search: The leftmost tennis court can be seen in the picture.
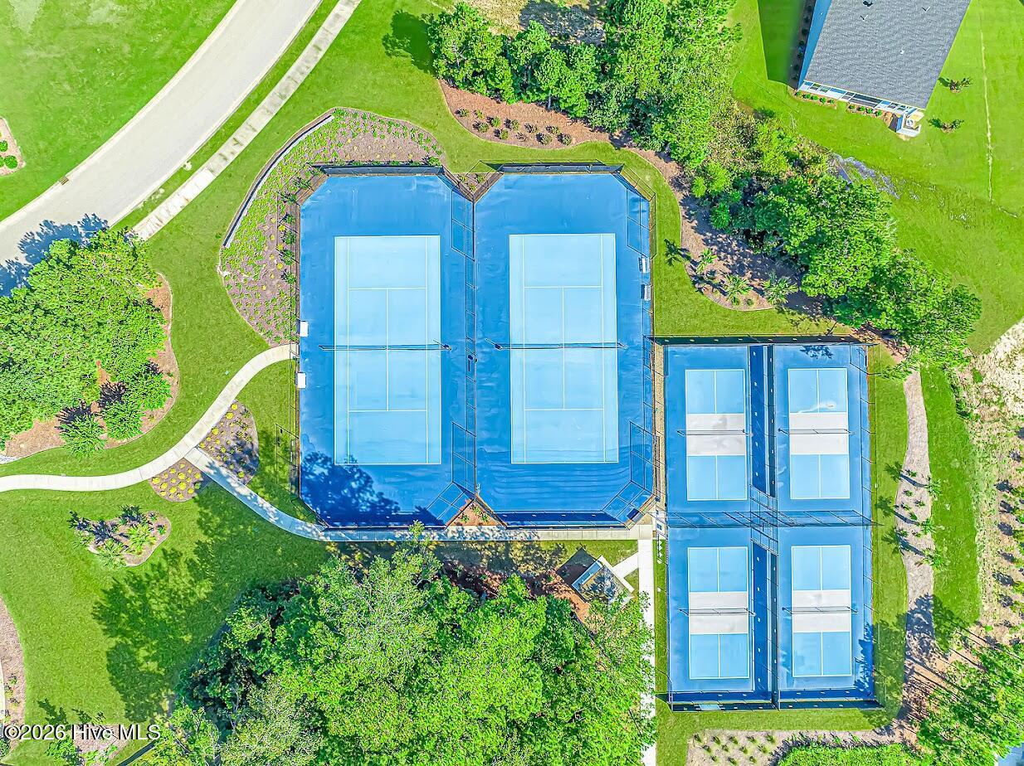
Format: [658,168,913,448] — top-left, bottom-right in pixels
[300,175,475,527]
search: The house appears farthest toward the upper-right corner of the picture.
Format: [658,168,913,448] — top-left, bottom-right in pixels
[798,0,977,118]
